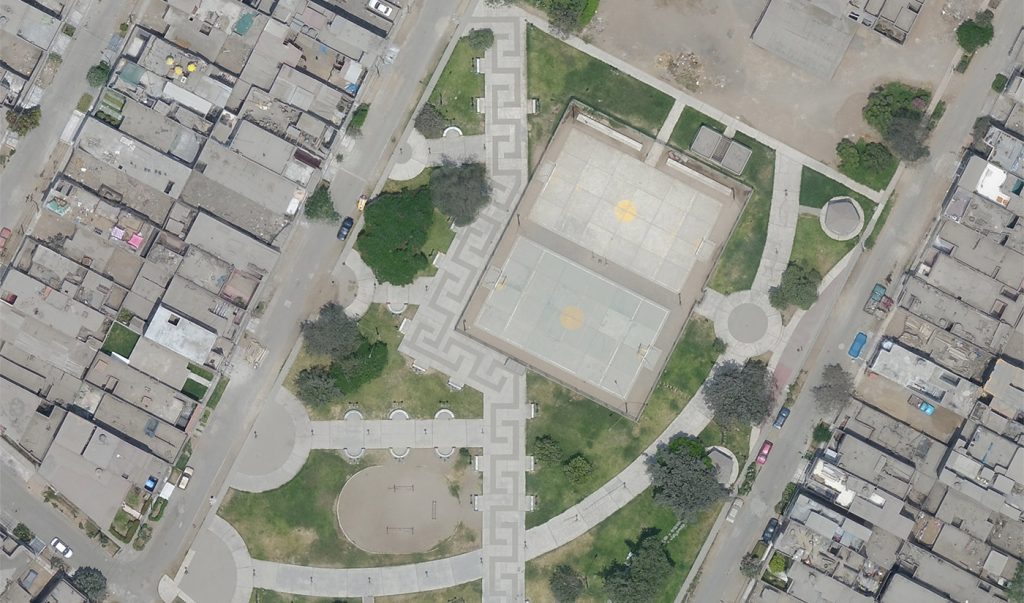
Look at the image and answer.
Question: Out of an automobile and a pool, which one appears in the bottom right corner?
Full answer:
You can see an automobile in the bottom right corner.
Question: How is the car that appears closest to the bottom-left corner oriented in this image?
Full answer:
I'd say the car that appears closest to the bottom-left corner is aligned on a diagonal in the picture.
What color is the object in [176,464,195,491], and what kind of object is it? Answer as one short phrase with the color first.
white car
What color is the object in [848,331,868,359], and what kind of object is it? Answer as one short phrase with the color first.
blue car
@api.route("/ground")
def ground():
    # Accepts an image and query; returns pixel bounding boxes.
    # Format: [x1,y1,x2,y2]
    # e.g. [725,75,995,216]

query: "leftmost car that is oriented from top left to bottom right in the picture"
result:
[48,536,74,560]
